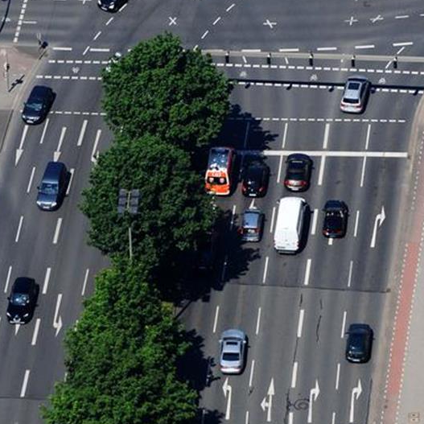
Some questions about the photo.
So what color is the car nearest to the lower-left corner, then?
black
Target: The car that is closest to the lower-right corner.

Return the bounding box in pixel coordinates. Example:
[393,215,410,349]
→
[346,323,375,361]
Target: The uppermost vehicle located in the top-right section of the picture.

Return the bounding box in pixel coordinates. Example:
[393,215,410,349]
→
[341,73,371,115]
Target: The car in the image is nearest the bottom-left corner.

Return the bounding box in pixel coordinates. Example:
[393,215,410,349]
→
[7,279,37,320]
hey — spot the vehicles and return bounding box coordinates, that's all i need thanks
[239,206,267,244]
[208,148,238,194]
[285,150,314,194]
[22,79,54,126]
[242,161,270,198]
[341,73,371,115]
[275,195,309,255]
[96,0,124,11]
[219,328,249,374]
[346,323,375,361]
[36,160,68,208]
[322,200,351,237]
[7,279,37,320]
